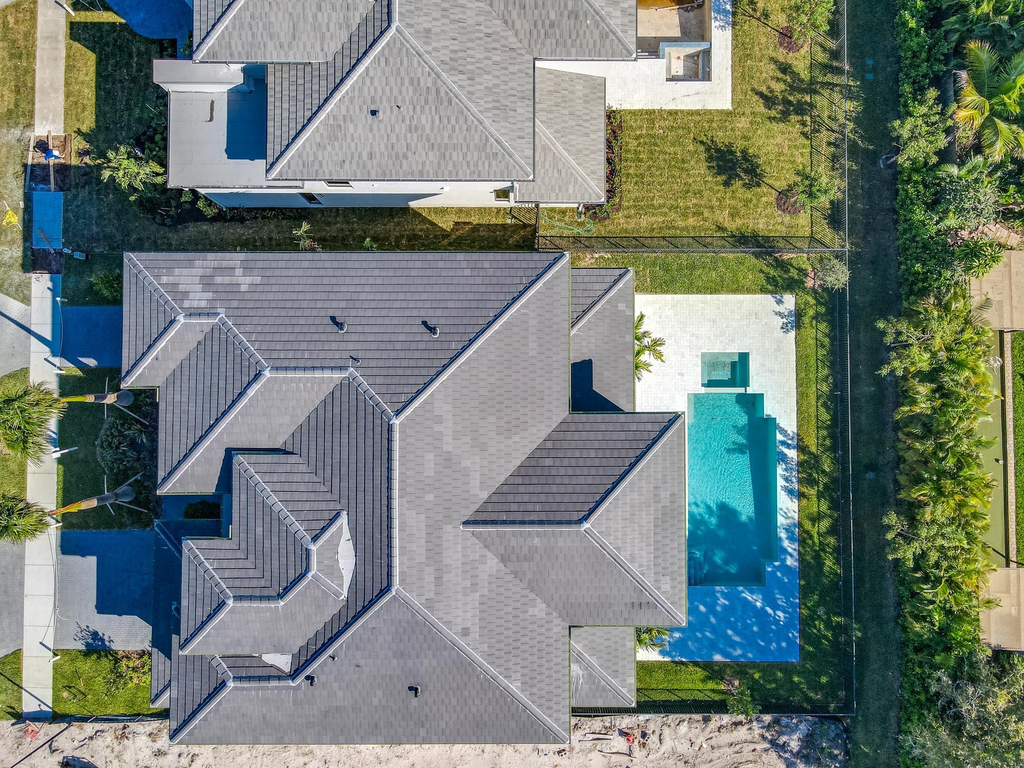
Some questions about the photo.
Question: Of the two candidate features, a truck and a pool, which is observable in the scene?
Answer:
pool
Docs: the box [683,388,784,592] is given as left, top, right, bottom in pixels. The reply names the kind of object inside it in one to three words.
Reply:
swimming pool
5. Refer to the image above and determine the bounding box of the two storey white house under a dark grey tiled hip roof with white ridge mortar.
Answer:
[118,248,689,747]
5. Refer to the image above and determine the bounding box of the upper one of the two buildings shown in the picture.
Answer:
[159,0,639,219]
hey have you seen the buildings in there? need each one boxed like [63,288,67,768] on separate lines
[118,248,689,747]
[159,0,639,219]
